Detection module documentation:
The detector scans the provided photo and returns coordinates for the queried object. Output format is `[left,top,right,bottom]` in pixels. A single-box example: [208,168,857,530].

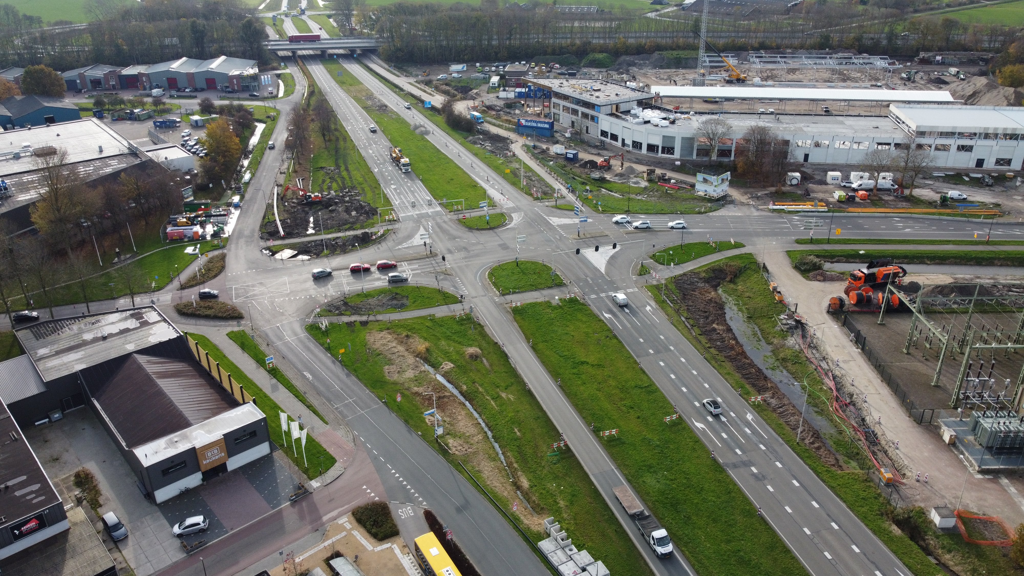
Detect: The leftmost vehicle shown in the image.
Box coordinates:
[10,310,42,323]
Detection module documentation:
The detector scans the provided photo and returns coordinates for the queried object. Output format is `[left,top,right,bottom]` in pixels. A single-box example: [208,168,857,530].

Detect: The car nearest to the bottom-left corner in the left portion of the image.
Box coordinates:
[96,508,130,540]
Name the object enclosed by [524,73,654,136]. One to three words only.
building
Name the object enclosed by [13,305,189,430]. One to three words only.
building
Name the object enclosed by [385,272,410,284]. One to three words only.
vehicle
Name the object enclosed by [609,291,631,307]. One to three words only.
vehicle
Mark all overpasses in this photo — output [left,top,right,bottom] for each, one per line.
[247,37,404,63]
